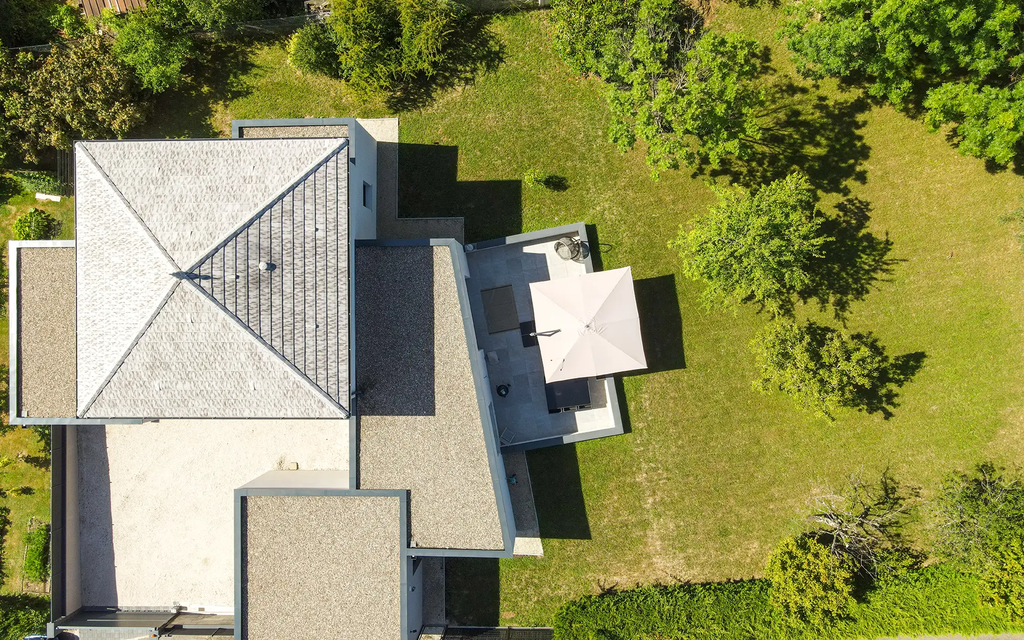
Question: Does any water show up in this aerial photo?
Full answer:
No, the scene doesn't show any water.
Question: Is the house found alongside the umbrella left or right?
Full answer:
The house found alongside the umbrella is on the left side of the image.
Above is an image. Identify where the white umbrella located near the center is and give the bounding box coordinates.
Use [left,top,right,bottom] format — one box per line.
[518,266,647,383]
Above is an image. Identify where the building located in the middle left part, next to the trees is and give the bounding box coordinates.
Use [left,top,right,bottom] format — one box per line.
[9,118,516,640]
